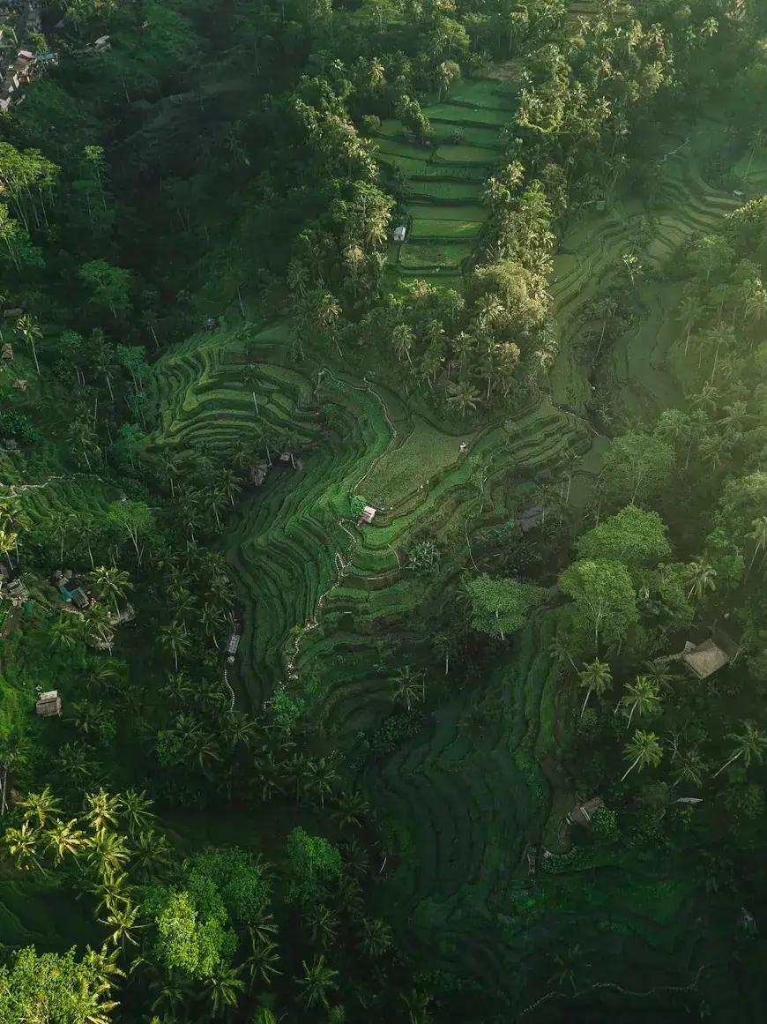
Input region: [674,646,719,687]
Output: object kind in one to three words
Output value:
building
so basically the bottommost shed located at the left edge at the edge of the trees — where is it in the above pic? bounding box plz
[35,691,66,722]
